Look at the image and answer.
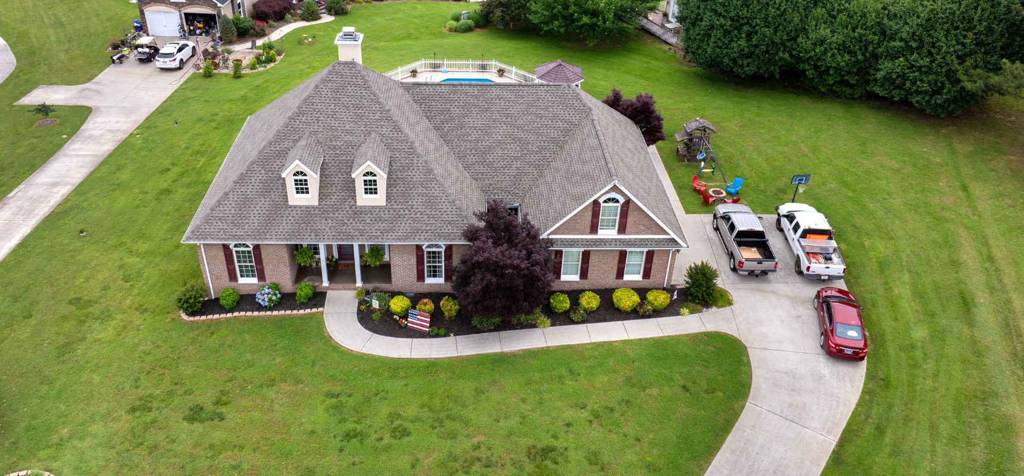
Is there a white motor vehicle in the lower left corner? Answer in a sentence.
No, no white motor vehicle is visible in the lower left corner.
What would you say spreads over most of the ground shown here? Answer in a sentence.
The scene is dominated by grass.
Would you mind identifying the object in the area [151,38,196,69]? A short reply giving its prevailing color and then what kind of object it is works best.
white car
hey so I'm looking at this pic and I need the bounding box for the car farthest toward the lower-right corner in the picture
[814,284,875,359]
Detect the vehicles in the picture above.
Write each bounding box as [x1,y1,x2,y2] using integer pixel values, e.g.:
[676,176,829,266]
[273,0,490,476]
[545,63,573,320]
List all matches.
[129,29,161,60]
[711,202,781,278]
[151,38,196,69]
[777,200,851,284]
[814,284,875,359]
